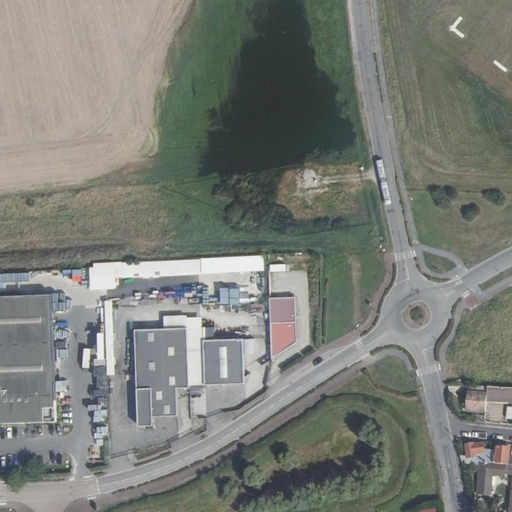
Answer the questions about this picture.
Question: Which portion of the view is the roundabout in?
right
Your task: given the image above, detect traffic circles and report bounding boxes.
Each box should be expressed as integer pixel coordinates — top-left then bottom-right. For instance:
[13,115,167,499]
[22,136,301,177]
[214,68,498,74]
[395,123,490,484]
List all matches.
[366,254,466,366]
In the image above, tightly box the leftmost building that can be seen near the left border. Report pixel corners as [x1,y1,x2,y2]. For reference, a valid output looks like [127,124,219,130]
[0,294,56,425]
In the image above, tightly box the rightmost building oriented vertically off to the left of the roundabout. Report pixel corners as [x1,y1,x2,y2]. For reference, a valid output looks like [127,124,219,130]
[270,297,296,358]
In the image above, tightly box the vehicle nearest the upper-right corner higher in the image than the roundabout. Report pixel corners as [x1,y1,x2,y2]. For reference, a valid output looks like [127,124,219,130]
[376,160,392,206]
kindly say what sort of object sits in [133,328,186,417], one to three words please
building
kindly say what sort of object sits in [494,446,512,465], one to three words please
house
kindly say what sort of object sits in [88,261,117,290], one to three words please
building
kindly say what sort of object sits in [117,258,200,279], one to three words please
shed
